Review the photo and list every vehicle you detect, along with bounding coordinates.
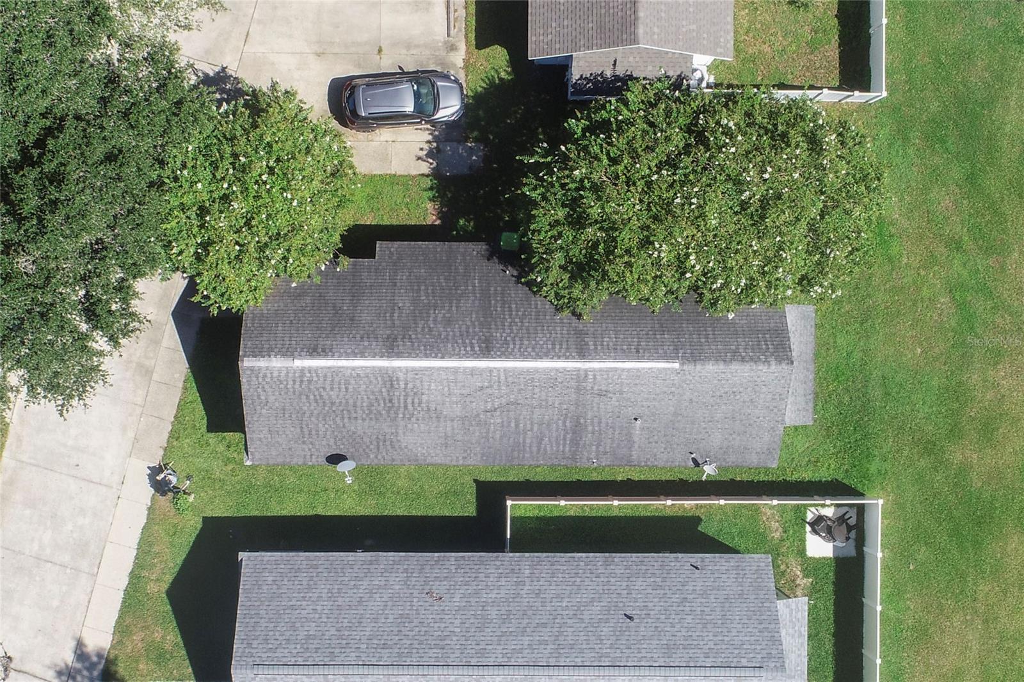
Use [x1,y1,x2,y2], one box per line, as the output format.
[341,68,467,134]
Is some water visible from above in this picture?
No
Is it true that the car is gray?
Yes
